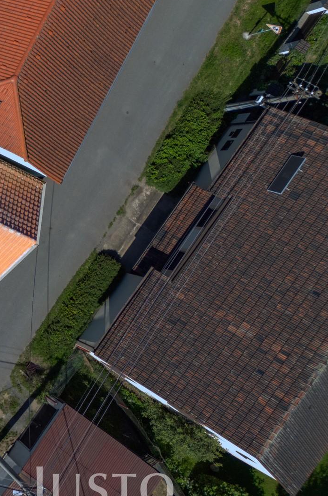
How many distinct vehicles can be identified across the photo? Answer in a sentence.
Not a single vehicle can be seen.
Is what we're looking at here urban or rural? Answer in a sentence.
From above, the setting appears urban.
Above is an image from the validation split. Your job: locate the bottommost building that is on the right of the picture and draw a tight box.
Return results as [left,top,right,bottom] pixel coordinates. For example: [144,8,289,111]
[74,107,328,494]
